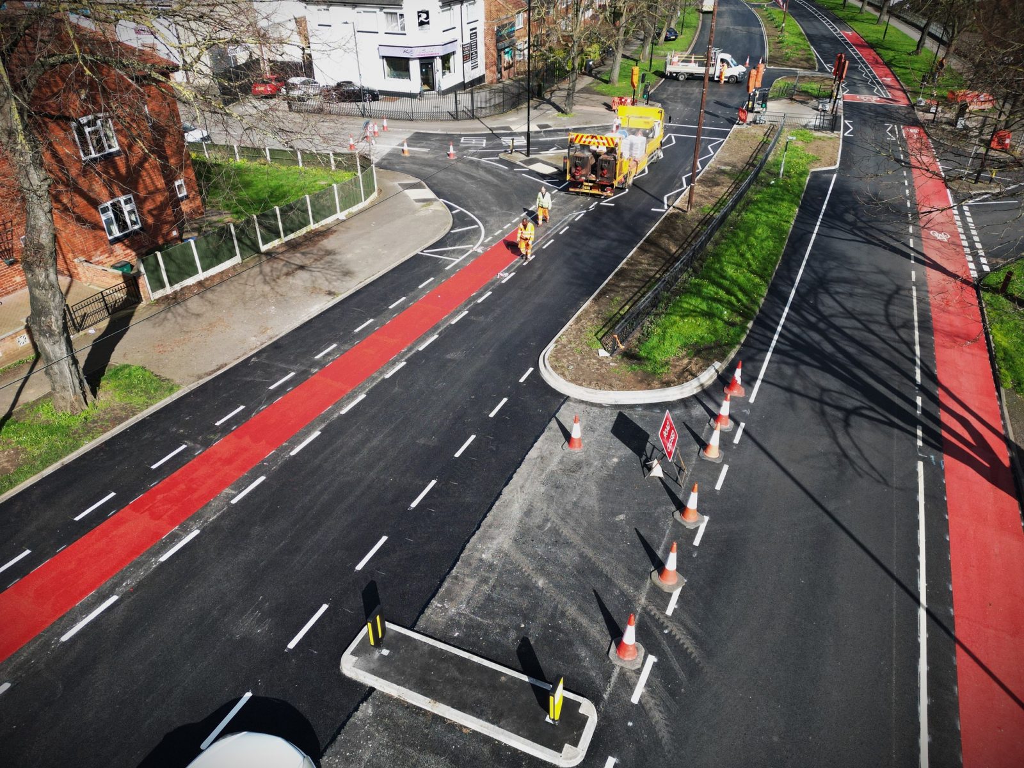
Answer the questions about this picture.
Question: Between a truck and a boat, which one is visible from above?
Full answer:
The one in the frame is a truck.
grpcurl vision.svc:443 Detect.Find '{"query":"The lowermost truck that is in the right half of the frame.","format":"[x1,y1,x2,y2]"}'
[568,104,673,203]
